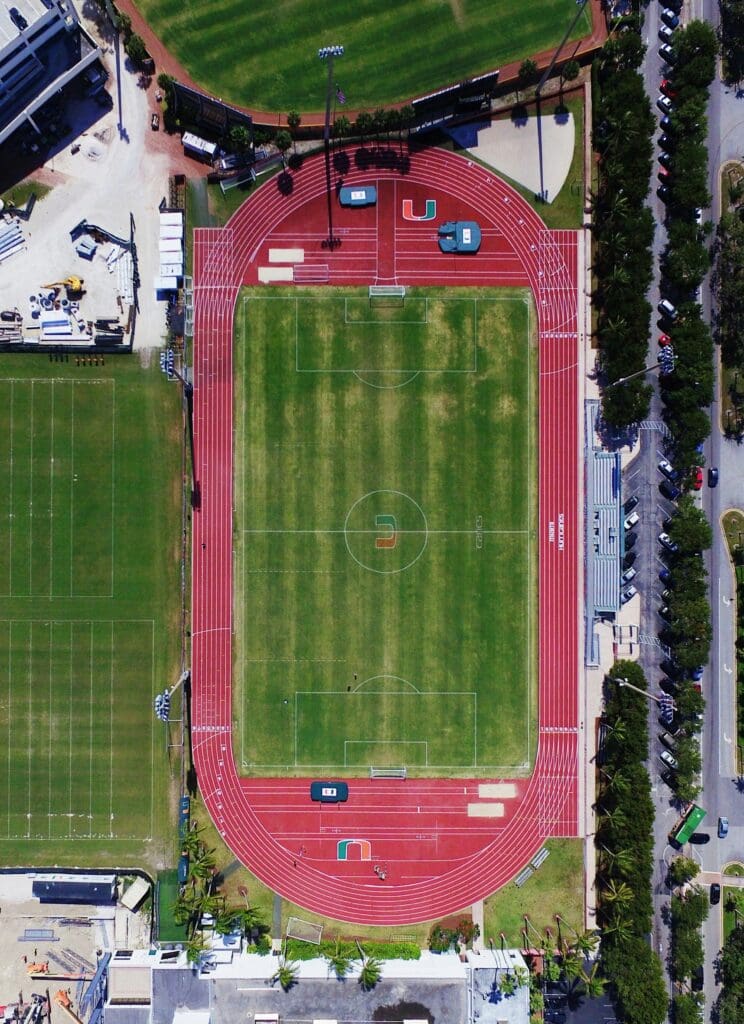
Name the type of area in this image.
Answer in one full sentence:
It's a sports ground.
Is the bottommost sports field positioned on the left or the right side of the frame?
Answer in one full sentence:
It is on the left.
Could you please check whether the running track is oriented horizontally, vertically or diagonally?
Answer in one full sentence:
The running track has been laid out vertically relative to the frame.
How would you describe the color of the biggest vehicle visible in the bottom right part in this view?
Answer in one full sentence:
In this view, the biggest vehicle visible in the bottom right part is green.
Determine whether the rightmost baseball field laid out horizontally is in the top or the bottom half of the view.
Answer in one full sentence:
The rightmost baseball field laid out horizontally sits in the top half of the picture.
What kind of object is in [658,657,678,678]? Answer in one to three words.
car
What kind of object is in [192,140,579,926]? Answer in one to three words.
running track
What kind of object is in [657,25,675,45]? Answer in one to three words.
car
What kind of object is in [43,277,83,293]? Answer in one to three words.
work vehicle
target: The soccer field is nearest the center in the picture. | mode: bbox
[233,286,539,780]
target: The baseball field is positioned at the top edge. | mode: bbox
[124,0,606,124]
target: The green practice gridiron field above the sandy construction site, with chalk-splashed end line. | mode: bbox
[0,608,182,868]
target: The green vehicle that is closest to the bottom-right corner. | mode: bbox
[668,797,707,846]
